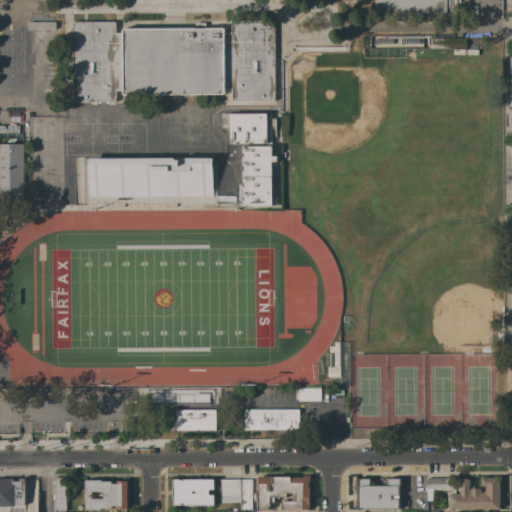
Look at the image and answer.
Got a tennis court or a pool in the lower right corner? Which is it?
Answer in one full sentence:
You can see a tennis court in the lower right corner.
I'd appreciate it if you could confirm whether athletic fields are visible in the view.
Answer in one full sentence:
Yes, this view includes an athletic field.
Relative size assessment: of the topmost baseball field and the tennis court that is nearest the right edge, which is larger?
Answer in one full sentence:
The baseball field takes up more space than the tennis court.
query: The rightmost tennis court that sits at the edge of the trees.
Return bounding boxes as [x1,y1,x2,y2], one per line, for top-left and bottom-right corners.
[467,367,493,416]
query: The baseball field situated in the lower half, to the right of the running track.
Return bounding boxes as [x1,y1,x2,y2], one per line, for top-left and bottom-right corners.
[432,282,503,354]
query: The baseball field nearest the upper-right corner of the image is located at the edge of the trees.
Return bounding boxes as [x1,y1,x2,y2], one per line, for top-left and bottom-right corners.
[292,58,387,154]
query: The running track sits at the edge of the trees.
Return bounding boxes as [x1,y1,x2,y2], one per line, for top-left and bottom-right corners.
[0,210,344,386]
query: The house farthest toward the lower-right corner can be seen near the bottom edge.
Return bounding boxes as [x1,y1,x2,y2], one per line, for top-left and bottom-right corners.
[450,478,500,512]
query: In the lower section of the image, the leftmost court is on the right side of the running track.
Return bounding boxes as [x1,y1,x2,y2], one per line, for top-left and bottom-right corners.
[357,367,383,416]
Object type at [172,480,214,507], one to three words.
building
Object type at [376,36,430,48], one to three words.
shed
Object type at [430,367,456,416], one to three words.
tennis court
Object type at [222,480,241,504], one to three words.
house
